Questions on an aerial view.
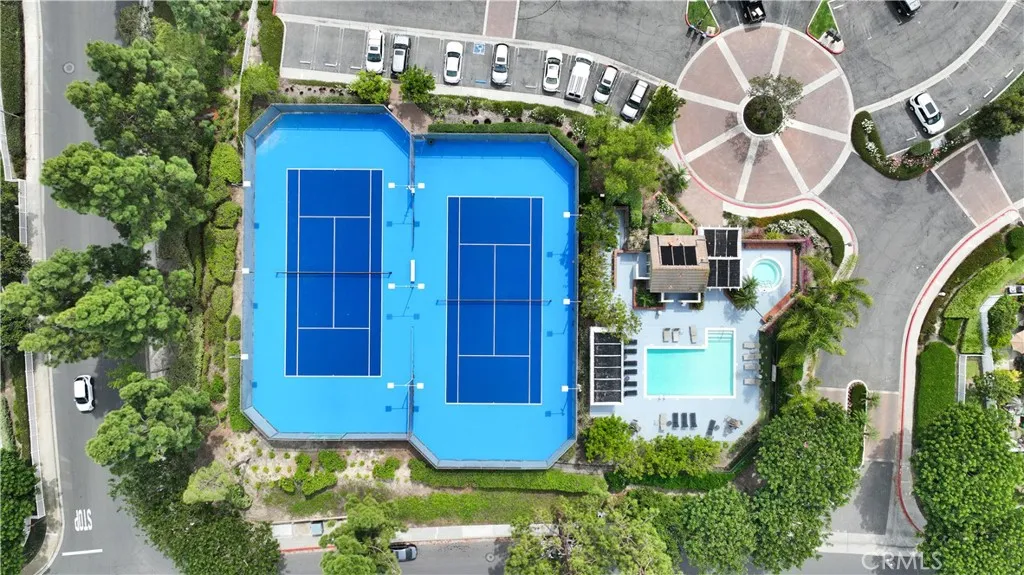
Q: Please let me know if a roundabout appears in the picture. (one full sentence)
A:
Yes, I can see a roundabout in this picture.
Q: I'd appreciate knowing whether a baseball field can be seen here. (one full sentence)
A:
No, there's no baseball field here.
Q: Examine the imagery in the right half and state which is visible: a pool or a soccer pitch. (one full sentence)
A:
There is a pool in the right half.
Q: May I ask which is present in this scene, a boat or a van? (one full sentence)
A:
The one in the frame is a van.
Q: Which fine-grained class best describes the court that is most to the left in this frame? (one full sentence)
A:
The court that is most to the left is a tennis court.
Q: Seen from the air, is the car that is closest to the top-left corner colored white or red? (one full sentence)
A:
The color of the car that is closest to the top-left corner is white.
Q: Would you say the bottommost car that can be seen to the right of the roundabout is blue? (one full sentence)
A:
No, the color of the bottommost car that can be seen to the right of the roundabout is white.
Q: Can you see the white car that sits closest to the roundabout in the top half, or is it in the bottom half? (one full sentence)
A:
You can find the white car that sits closest to the roundabout in the top half.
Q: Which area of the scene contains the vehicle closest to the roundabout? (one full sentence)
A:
The vehicle closest to the roundabout is in the top right part of the image.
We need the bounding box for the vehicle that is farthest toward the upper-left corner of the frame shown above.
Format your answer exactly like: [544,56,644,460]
[364,30,385,73]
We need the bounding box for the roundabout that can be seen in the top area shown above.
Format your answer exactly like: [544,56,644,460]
[673,23,853,204]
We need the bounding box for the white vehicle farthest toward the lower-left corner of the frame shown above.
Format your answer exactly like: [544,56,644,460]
[74,374,97,412]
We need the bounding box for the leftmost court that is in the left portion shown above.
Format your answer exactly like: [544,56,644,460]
[253,112,415,433]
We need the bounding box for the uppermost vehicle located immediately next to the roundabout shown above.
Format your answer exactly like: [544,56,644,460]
[742,0,767,27]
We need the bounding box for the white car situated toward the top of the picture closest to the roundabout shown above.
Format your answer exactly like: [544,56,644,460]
[621,78,649,123]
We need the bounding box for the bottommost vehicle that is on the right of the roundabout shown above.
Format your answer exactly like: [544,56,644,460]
[909,91,942,135]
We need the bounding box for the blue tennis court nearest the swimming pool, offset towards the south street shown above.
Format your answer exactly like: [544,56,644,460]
[413,140,575,461]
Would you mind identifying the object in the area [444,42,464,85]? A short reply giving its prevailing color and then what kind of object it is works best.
white car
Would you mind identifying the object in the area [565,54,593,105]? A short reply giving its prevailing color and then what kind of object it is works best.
white van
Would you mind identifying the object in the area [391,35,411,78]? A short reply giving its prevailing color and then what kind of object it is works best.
white car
